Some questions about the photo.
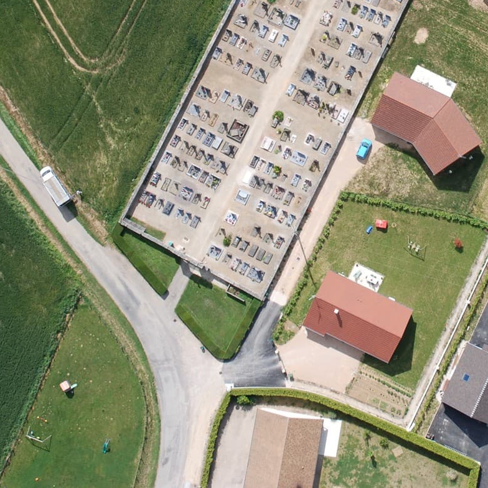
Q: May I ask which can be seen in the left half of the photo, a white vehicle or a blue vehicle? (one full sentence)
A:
You can see a white vehicle in the left half of the photo.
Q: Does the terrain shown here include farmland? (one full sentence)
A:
Yes, farmland shows up in the scene.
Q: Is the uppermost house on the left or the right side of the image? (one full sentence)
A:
It is on the right.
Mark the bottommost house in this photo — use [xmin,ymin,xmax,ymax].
[244,407,325,488]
